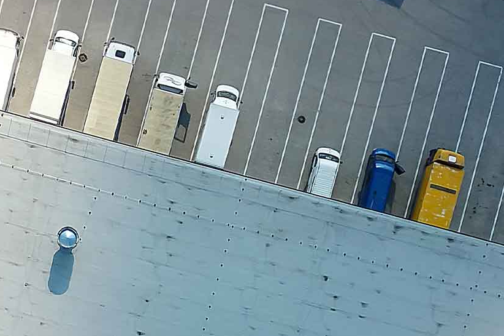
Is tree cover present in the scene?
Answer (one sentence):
No, there is no tree cover in the image.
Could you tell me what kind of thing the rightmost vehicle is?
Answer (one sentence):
The rightmost vehicle appears to be a truck.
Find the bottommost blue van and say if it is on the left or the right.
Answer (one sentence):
The bottommost blue van appears in the right half of the scene.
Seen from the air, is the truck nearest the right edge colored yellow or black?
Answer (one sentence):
In this view, the truck nearest the right edge is yellow.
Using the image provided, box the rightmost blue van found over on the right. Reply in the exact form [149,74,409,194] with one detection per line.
[358,146,407,204]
